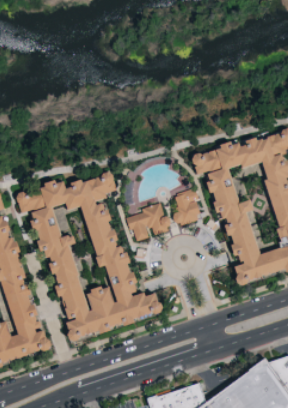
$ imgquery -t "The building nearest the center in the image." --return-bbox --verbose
[126,203,172,240]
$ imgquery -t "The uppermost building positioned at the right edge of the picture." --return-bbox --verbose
[190,129,288,285]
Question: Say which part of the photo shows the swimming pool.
center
